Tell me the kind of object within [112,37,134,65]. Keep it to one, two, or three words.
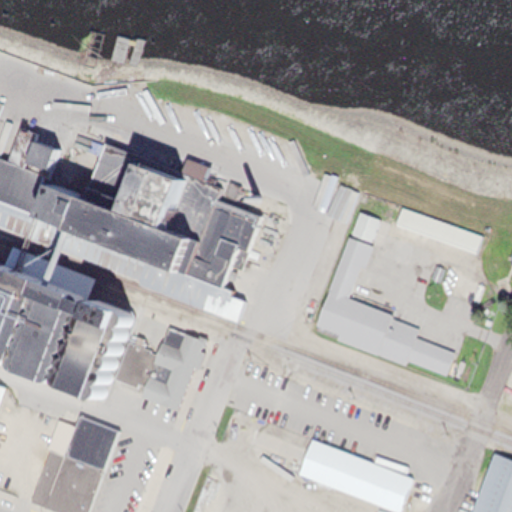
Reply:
pier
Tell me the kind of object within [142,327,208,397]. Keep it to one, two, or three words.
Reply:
building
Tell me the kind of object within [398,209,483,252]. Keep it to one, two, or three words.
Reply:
shed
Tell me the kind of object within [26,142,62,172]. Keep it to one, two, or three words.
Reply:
building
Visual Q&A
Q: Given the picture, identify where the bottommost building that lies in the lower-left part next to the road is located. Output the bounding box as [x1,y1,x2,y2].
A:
[30,417,120,512]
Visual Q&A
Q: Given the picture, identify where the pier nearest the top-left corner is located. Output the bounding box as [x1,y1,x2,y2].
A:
[84,30,108,68]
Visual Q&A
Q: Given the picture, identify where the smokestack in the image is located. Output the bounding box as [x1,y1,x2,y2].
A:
[241,196,268,210]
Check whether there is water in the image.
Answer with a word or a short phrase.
Yes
